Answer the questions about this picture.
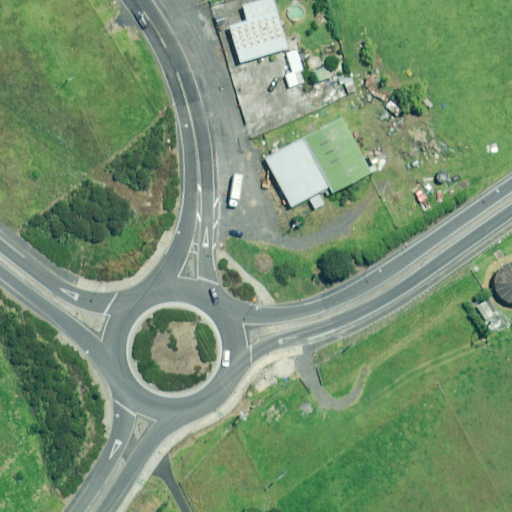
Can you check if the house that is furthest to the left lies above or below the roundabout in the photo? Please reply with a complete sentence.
Within the scene, the house that is furthest to the left can be found above the roundabout.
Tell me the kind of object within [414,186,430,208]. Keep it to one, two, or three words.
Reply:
vehicle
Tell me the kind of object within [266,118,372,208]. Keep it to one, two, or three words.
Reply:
barn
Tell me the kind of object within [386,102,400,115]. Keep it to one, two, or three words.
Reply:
vehicle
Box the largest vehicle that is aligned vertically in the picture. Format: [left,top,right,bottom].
[228,173,242,208]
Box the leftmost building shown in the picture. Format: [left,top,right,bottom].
[230,0,287,64]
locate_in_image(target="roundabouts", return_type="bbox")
[87,254,276,429]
